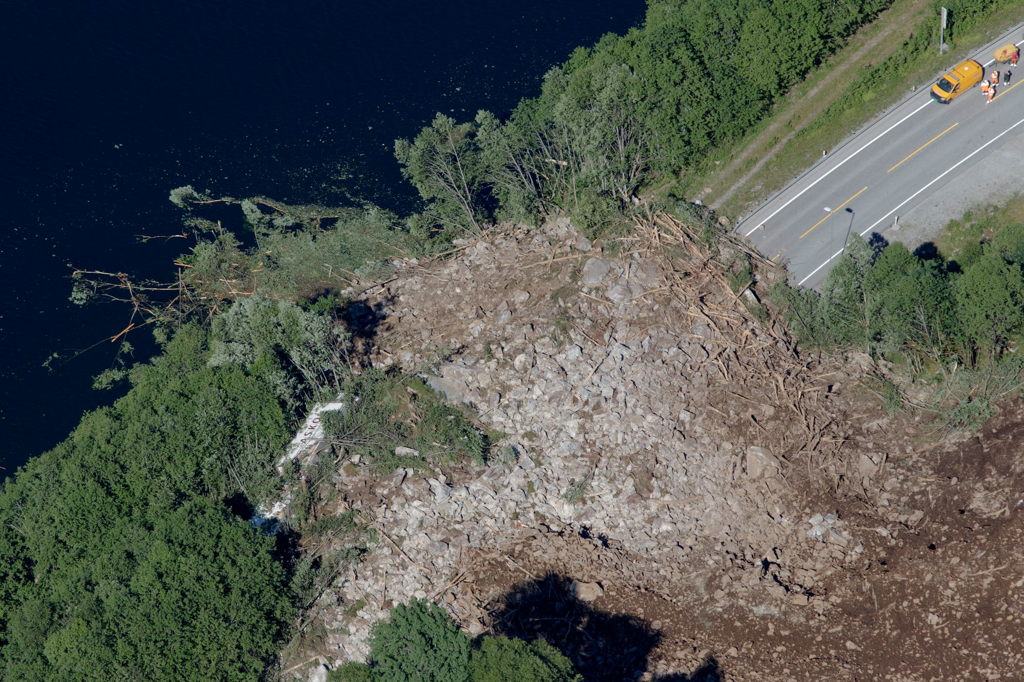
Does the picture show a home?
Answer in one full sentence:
No, there's no home here.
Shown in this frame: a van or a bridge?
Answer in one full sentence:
There is a van in the scene.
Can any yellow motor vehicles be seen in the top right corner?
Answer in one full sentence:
Yes, looking in the top right corner, one can make out a yellow motor vehicle.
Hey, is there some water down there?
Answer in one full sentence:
Yes, some water is visible.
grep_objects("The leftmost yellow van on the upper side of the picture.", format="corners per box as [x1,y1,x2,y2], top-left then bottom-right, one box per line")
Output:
[929,58,985,105]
